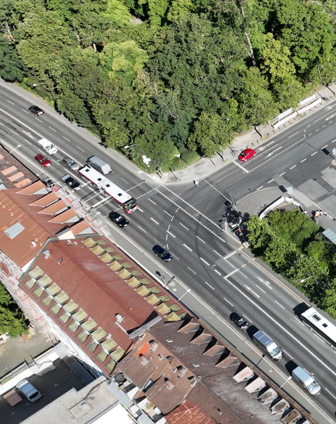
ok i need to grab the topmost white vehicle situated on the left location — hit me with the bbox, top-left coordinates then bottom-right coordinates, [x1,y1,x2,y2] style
[40,136,56,150]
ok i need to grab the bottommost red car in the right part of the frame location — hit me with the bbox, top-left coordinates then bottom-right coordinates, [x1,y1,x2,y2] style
[238,149,256,163]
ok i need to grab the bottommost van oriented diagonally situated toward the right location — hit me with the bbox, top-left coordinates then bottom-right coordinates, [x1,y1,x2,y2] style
[291,362,321,394]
